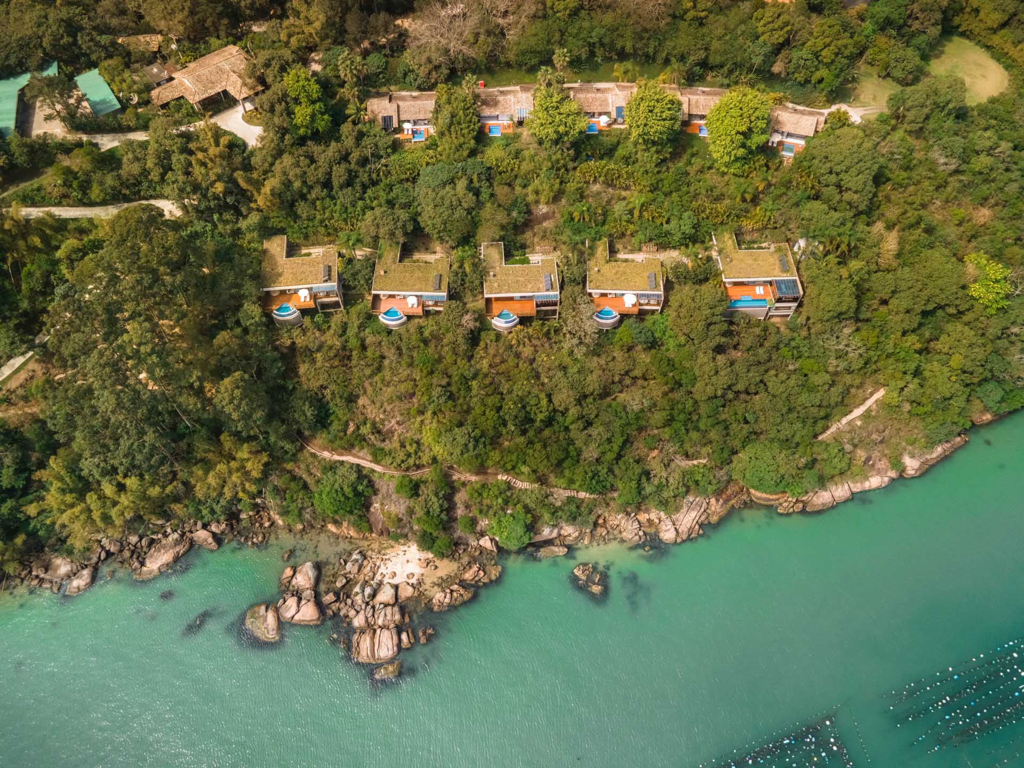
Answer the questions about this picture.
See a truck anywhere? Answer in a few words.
No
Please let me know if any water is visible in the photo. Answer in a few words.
Yes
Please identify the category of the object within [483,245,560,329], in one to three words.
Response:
house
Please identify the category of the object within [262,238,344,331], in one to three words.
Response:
house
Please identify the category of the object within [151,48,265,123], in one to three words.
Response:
building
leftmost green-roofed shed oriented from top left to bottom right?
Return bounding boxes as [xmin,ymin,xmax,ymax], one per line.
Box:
[74,69,129,139]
